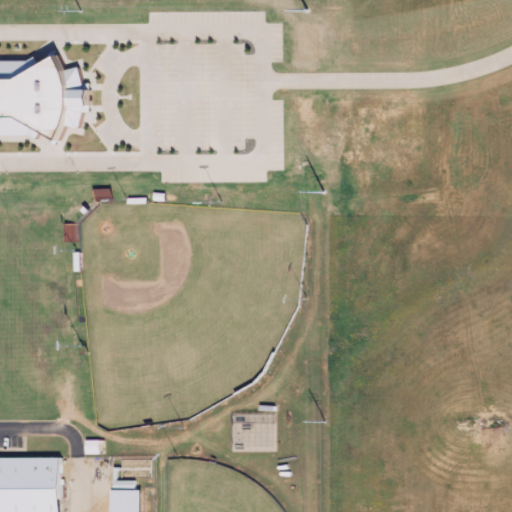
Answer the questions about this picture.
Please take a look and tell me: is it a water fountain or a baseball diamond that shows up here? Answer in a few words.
baseball diamond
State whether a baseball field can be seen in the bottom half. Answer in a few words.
Yes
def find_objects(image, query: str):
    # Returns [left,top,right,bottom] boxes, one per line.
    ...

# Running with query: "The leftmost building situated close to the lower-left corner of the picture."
[0,458,62,512]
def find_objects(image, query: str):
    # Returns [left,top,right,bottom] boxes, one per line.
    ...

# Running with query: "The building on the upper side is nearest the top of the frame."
[0,56,93,140]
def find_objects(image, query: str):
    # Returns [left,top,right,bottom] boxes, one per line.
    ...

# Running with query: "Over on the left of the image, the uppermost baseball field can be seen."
[76,203,306,430]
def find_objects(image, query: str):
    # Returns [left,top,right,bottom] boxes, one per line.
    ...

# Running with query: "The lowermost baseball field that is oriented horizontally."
[168,458,276,512]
